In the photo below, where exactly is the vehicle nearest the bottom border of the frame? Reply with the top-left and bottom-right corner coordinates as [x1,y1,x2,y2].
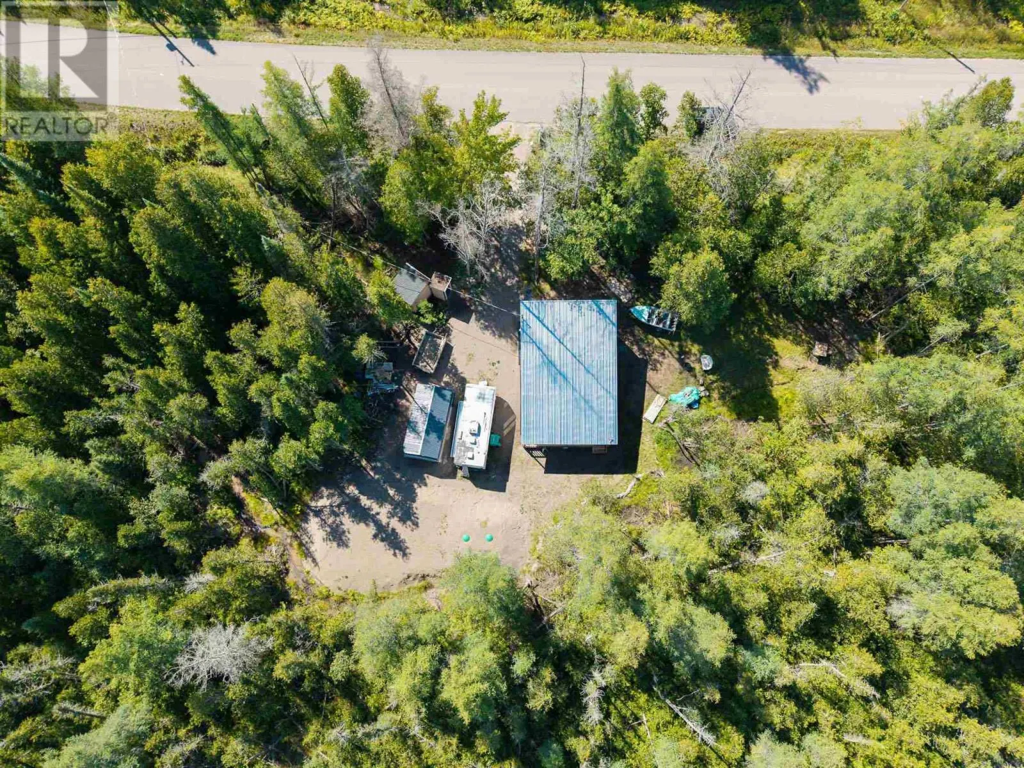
[450,382,498,482]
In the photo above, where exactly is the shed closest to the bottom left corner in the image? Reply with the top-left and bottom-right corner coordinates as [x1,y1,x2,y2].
[404,385,455,462]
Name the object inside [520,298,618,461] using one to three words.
building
